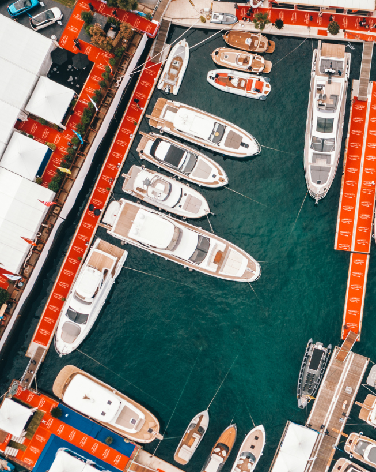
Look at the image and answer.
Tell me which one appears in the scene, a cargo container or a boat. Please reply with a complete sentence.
This aerial view contains a boat.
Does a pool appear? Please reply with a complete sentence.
No, I find no pool anywhere in the image.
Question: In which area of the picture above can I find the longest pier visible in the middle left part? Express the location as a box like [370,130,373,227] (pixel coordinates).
[26,42,172,357]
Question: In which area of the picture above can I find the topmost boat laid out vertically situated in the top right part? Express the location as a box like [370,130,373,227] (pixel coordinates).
[303,42,350,204]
